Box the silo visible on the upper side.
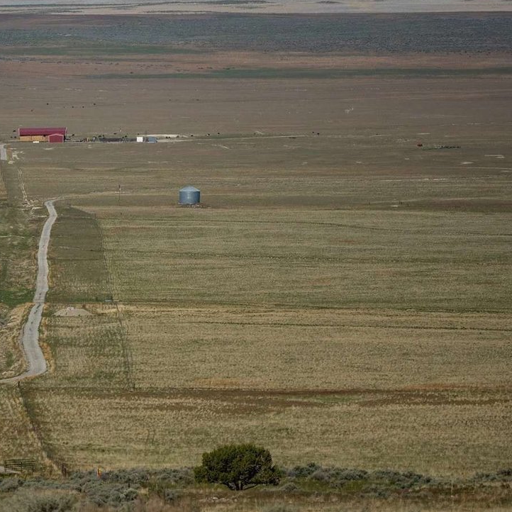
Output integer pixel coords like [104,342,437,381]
[178,188,201,205]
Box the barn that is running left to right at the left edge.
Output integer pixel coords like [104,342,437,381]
[18,126,66,142]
